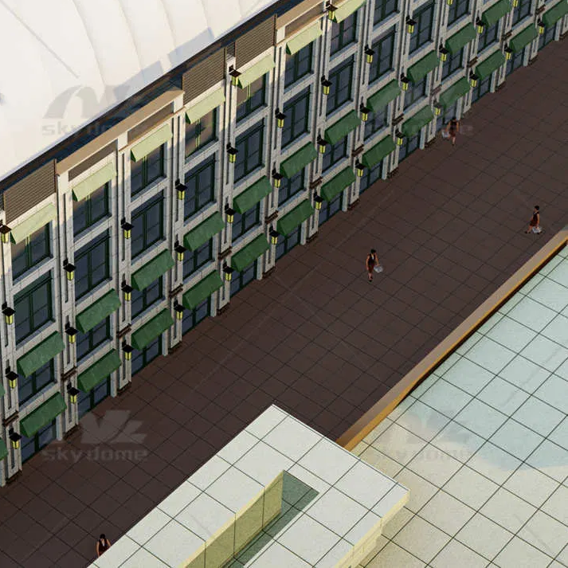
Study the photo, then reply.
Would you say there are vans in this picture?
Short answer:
No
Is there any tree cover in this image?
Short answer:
No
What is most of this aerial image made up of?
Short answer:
buildings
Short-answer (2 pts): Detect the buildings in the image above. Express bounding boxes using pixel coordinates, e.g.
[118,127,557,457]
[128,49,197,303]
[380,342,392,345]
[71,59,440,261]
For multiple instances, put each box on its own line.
[90,232,568,568]
[0,0,568,479]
